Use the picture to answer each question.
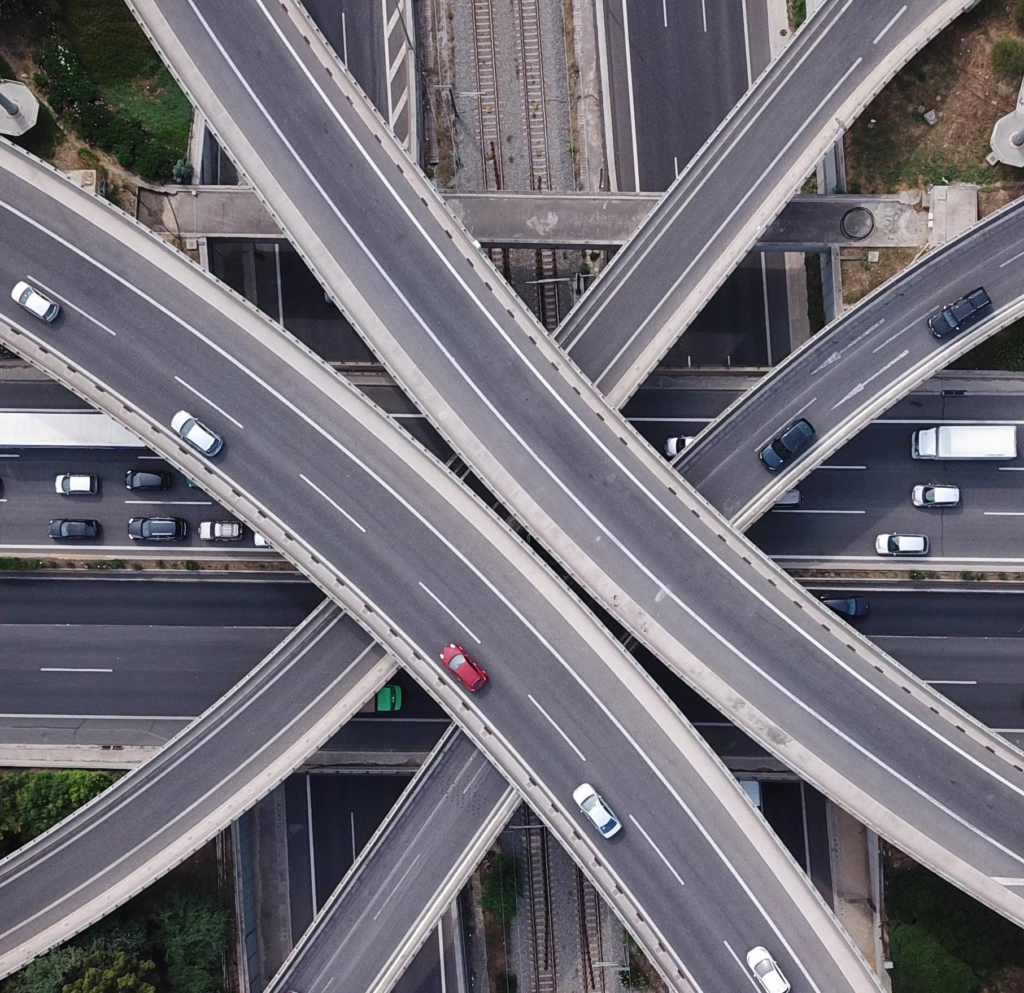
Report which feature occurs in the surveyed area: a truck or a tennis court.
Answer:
truck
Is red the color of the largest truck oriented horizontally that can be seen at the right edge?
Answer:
No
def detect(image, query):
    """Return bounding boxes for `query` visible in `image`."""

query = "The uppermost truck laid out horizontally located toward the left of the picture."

[0,415,151,451]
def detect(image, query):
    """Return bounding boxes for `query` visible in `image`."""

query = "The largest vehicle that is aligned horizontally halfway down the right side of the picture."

[910,425,1017,459]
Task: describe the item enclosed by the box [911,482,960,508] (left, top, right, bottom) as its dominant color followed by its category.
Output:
white car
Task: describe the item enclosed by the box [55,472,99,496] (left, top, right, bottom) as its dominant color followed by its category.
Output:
white car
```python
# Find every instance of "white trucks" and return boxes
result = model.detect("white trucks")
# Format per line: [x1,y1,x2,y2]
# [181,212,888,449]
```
[0,415,151,451]
[910,425,1017,459]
